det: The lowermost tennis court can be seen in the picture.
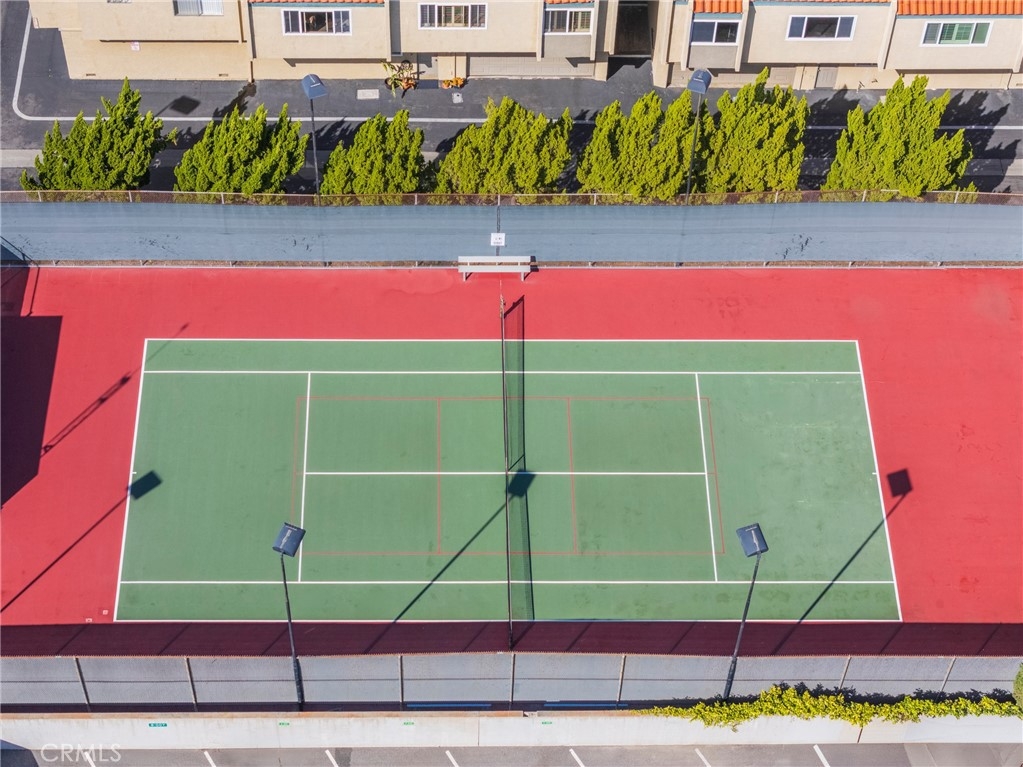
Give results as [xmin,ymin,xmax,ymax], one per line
[0,268,1023,712]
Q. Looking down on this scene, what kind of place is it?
sports ground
